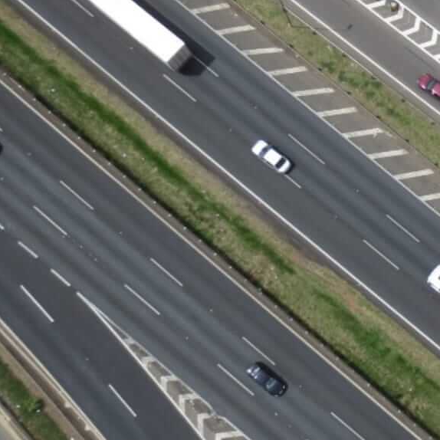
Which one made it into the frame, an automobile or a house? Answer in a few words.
automobile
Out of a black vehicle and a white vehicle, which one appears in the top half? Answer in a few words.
white vehicle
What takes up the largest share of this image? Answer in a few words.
paved ground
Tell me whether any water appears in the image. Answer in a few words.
No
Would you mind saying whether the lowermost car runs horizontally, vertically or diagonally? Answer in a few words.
diagonally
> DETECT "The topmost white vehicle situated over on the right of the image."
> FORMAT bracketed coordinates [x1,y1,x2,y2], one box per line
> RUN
[253,139,291,174]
